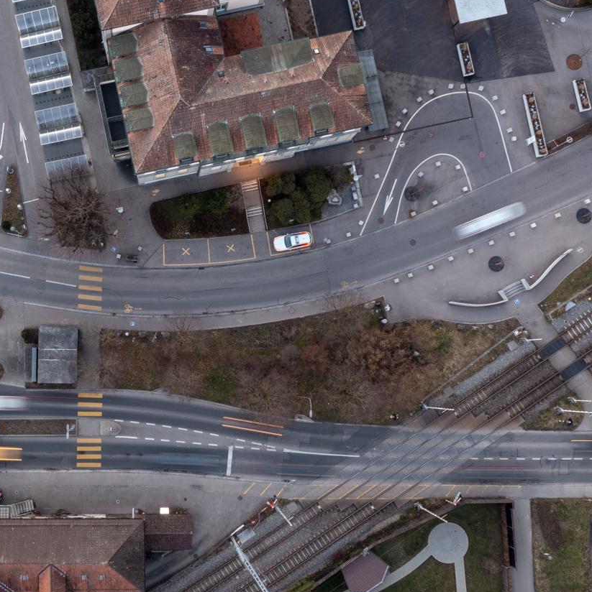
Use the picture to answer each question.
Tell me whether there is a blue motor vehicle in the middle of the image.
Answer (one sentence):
No, no blue motor vehicle appears in the middle of the image.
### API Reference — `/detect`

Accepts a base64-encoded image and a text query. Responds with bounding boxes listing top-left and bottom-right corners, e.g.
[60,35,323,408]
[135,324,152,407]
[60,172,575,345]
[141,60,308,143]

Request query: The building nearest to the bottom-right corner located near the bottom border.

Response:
[340,548,391,592]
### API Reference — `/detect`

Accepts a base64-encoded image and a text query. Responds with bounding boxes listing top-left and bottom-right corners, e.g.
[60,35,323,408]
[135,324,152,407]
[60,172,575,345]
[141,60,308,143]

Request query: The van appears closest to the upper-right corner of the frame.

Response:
[466,207,509,235]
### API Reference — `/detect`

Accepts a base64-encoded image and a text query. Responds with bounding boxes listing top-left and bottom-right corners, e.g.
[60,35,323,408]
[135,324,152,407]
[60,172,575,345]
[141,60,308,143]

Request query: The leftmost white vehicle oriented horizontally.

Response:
[272,231,311,249]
